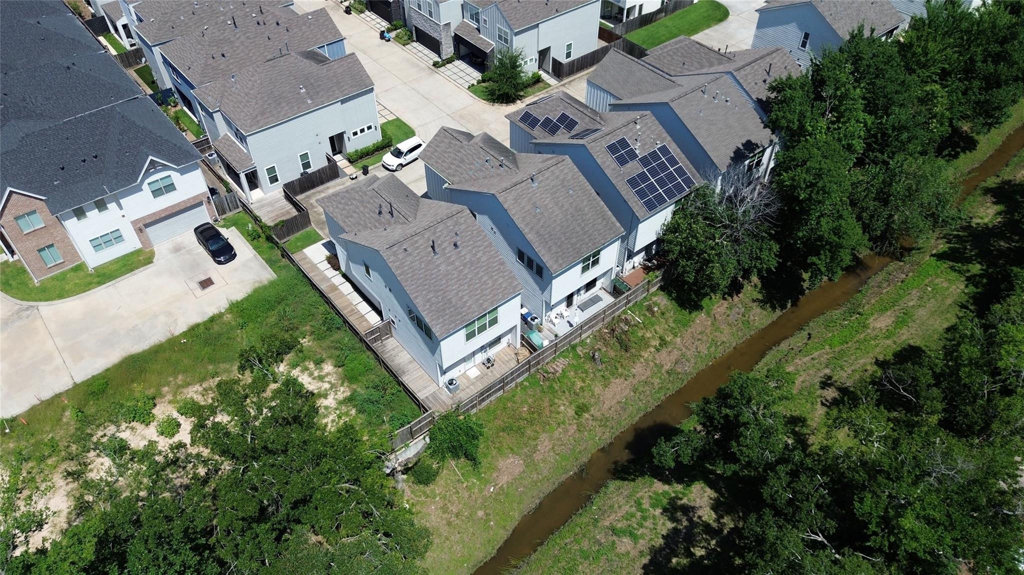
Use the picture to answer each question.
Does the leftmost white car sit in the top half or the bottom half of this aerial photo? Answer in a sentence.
You can find the leftmost white car in the top half.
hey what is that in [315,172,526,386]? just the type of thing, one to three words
house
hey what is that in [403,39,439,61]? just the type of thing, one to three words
house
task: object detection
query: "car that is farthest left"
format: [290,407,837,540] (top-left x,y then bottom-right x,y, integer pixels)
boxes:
[191,221,235,265]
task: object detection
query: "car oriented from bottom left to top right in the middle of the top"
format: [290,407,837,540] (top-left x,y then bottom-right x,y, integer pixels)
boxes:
[381,134,429,171]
